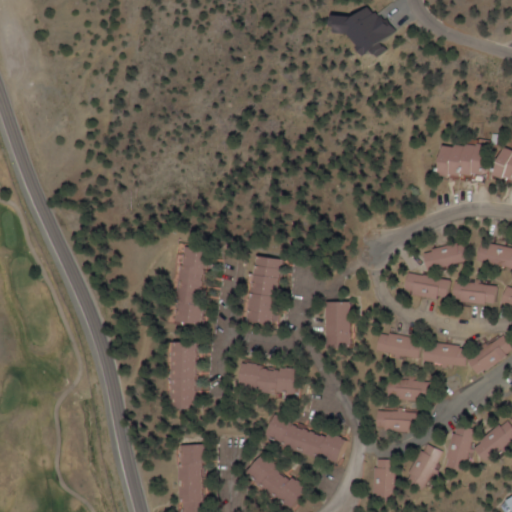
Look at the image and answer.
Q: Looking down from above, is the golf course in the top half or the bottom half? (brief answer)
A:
bottom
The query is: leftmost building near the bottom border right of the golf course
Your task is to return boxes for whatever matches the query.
[177,444,206,512]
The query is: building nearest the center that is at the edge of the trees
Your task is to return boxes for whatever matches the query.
[246,256,285,324]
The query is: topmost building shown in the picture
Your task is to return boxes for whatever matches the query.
[328,4,396,56]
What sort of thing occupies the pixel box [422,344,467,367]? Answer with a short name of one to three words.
house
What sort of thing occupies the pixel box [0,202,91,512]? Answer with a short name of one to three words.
golf course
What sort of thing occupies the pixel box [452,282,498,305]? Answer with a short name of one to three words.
house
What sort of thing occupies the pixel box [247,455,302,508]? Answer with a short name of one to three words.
building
